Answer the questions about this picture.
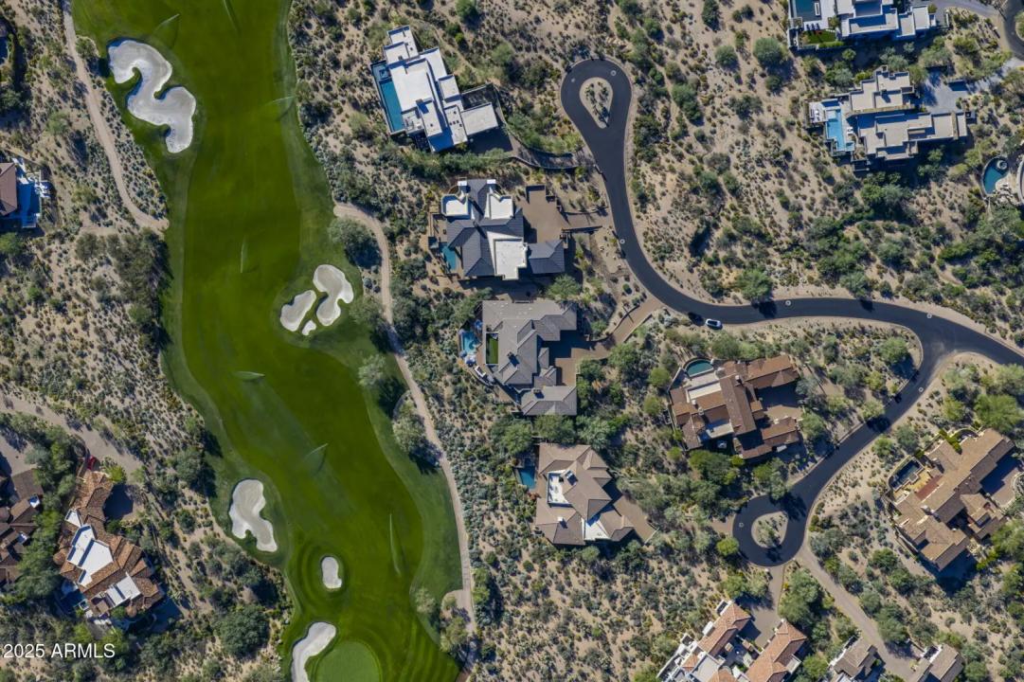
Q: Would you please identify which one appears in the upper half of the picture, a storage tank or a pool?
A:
pool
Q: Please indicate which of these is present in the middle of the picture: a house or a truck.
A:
house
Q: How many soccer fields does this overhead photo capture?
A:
0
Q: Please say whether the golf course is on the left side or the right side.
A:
left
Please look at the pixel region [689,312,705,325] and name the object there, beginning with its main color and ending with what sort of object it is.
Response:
black vehicle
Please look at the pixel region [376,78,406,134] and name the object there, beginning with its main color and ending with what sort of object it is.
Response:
blue swimming pool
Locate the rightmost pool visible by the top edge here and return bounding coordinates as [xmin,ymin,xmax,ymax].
[792,0,826,24]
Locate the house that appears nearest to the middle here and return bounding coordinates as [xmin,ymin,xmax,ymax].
[482,300,577,416]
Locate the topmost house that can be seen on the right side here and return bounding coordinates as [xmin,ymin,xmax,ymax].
[822,0,938,50]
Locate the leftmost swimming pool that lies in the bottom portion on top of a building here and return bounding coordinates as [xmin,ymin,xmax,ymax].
[58,583,89,610]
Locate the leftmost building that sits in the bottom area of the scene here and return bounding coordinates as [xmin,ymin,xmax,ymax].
[0,469,46,583]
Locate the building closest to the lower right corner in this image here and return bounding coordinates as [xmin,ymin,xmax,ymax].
[901,641,965,682]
